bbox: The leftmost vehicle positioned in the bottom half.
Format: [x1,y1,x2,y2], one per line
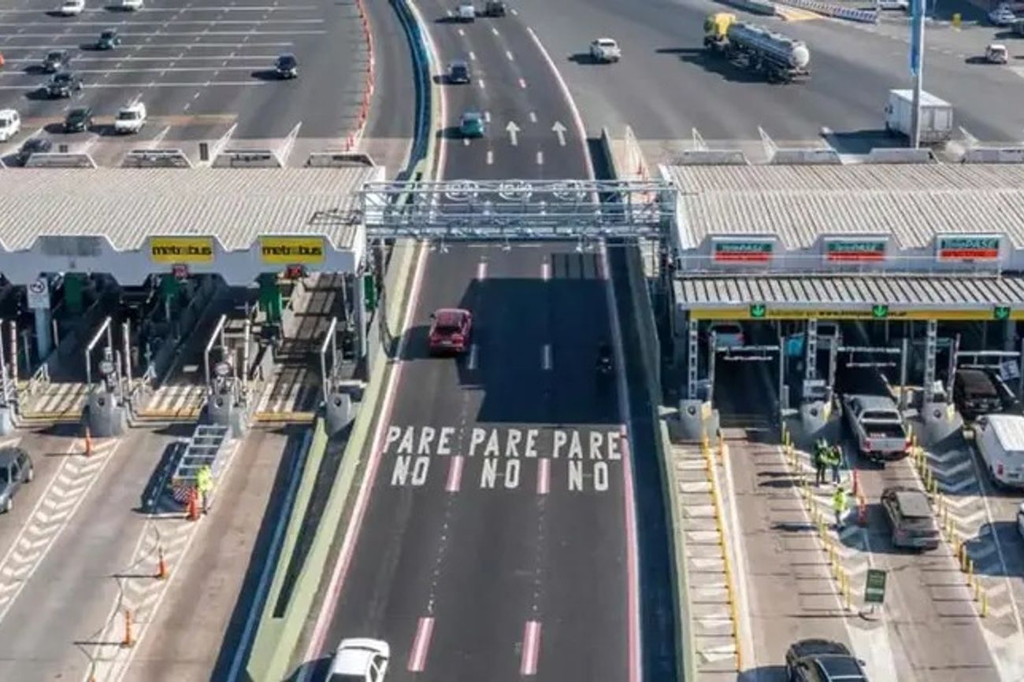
[0,451,38,515]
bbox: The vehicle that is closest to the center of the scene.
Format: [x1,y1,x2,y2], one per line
[431,311,474,350]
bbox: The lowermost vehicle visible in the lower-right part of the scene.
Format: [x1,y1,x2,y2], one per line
[786,639,872,682]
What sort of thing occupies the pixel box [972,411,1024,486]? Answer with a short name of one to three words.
van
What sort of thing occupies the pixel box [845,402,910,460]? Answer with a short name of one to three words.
truck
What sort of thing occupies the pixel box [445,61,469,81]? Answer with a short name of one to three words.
car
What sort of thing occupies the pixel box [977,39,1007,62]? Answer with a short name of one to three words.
vehicle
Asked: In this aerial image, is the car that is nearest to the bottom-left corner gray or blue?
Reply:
gray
